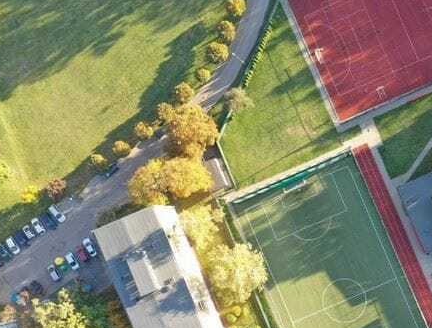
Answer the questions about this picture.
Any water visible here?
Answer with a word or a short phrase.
No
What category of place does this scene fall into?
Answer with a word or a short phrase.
sports ground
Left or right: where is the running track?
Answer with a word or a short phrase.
right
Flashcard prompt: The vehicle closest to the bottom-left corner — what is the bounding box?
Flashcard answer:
[27,280,44,293]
